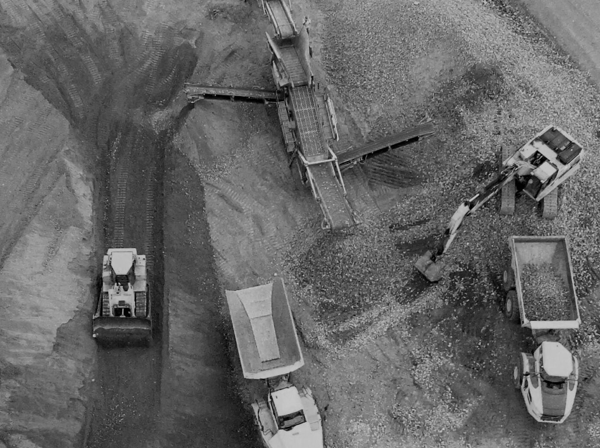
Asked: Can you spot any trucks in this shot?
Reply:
Yes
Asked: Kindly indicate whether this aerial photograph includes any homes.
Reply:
No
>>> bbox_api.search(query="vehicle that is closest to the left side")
[86,247,150,345]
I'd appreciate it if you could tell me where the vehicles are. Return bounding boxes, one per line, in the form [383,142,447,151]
[86,247,150,345]
[226,276,321,448]
[415,122,588,280]
[504,232,588,423]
